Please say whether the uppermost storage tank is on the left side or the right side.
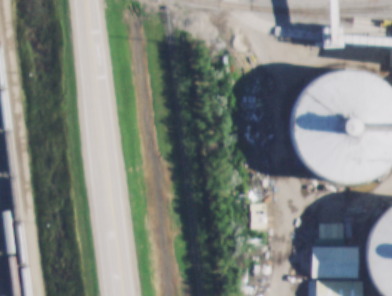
right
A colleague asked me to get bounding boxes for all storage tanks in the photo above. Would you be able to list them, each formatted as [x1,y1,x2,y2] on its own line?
[288,67,392,184]
[362,204,392,296]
